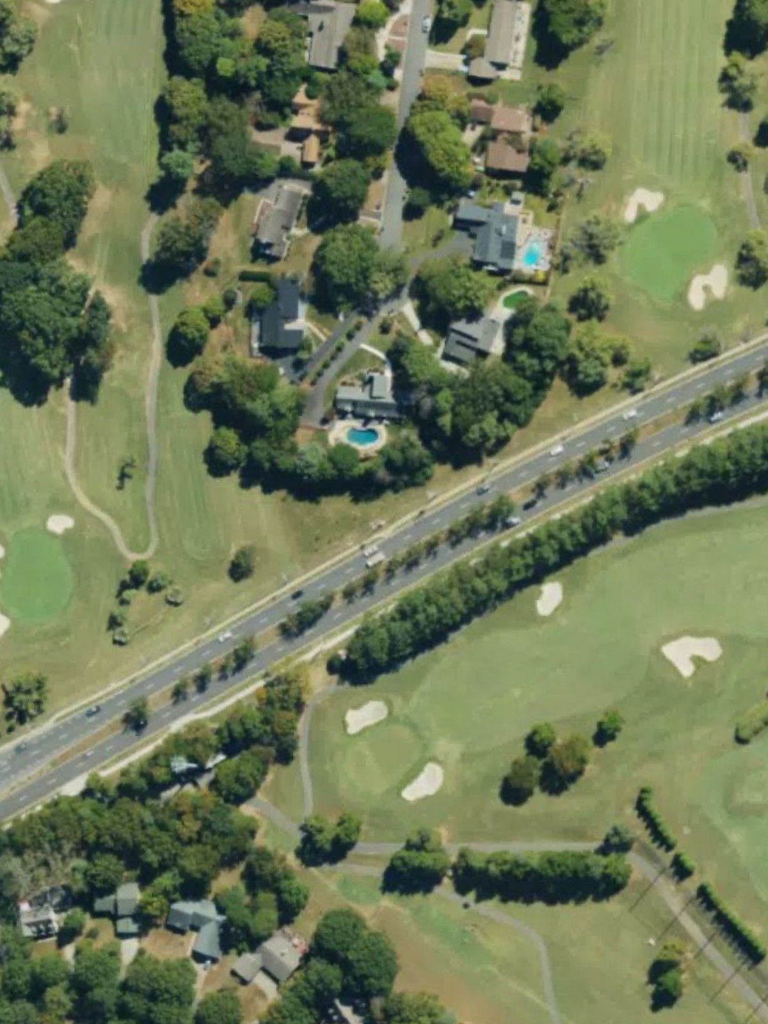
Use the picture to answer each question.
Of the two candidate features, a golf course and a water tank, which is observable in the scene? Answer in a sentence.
Looking from above, you can make out a golf course.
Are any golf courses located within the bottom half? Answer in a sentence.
Yes, a golf course shows up within the bottom half.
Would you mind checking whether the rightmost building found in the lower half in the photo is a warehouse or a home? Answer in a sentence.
It turns out the rightmost building found in the lower half is a home.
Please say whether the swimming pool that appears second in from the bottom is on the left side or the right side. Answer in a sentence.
The swimming pool that appears second in from the bottom appears in the right half of the scene.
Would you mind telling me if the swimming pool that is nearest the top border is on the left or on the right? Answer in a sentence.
You can find the swimming pool that is nearest the top border on the right side of the picture.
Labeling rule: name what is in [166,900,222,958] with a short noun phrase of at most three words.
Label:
house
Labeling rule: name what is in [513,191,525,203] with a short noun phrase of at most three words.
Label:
gazebo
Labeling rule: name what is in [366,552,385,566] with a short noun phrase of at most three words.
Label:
vehicle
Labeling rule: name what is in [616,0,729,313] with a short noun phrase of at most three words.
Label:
golf course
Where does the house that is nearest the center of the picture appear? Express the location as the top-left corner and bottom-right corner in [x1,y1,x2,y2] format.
[335,374,398,418]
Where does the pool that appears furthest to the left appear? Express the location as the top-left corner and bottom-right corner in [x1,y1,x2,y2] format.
[329,419,388,455]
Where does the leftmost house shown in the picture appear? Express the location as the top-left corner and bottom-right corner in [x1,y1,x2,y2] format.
[18,898,61,938]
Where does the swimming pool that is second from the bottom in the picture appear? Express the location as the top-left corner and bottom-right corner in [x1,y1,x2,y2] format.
[497,287,534,316]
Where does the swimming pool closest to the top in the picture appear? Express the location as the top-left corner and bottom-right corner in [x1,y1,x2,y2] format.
[516,221,552,272]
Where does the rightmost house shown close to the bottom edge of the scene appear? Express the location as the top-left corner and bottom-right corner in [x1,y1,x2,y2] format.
[232,931,303,984]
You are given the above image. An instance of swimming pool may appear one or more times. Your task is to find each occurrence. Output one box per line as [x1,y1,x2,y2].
[497,287,534,316]
[329,419,388,455]
[516,221,552,272]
